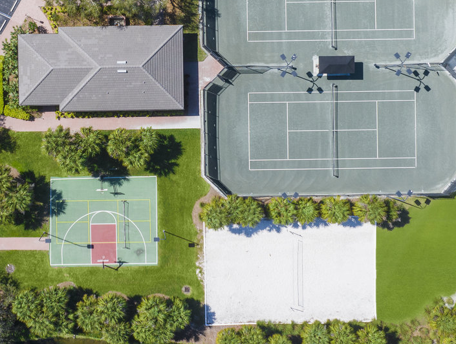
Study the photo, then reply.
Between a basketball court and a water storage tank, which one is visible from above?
basketball court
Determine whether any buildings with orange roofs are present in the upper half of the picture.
No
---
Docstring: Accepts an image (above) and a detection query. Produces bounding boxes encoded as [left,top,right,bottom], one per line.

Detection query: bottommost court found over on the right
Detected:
[204,220,377,327]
